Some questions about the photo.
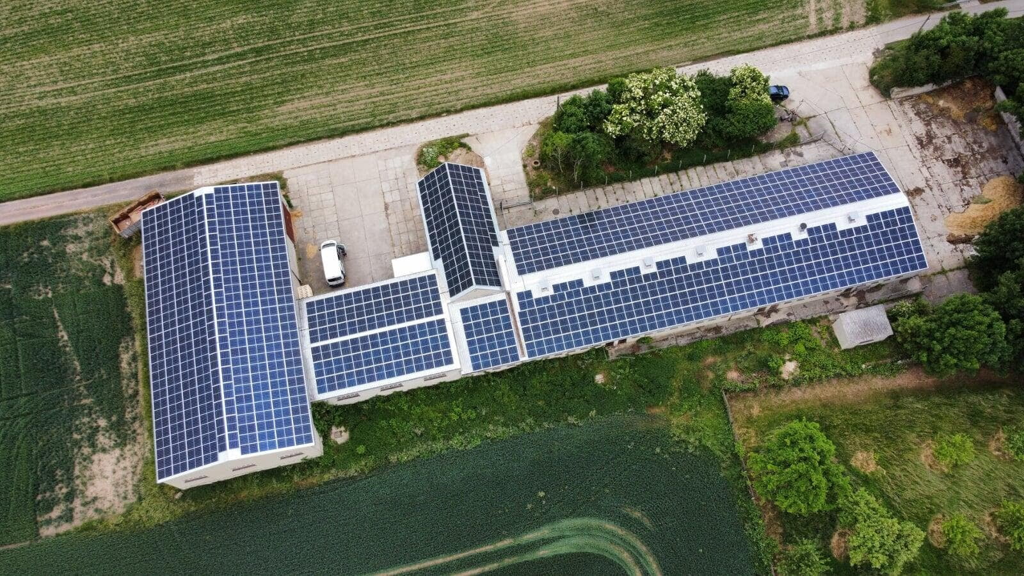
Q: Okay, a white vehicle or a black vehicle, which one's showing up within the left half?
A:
white vehicle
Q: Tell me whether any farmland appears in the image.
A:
Yes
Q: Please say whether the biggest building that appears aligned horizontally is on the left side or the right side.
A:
right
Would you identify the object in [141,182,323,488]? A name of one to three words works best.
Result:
barn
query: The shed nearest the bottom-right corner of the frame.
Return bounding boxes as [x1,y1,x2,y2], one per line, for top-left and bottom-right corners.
[832,304,894,350]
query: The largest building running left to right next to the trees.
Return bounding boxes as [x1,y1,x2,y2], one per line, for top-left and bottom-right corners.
[499,151,930,364]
